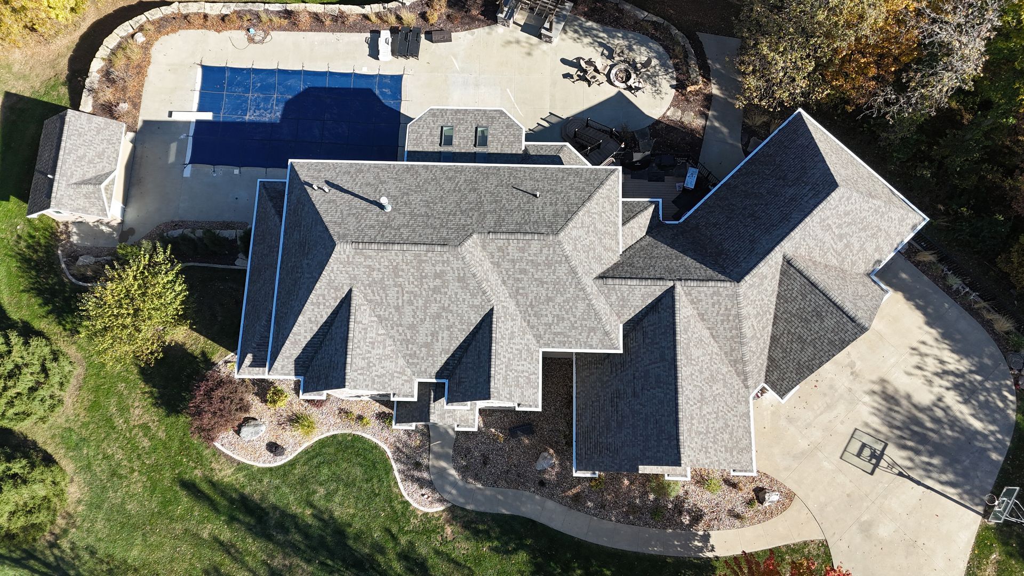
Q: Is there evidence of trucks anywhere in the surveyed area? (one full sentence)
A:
No, the photo shows no truck.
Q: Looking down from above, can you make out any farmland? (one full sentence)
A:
No, the picture contains no farmland.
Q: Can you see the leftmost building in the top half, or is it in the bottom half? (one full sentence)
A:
It is in the top half that the leftmost building appears.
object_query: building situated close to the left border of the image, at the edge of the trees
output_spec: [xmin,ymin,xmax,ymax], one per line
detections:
[28,110,135,224]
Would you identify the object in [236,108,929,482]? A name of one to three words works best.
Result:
house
